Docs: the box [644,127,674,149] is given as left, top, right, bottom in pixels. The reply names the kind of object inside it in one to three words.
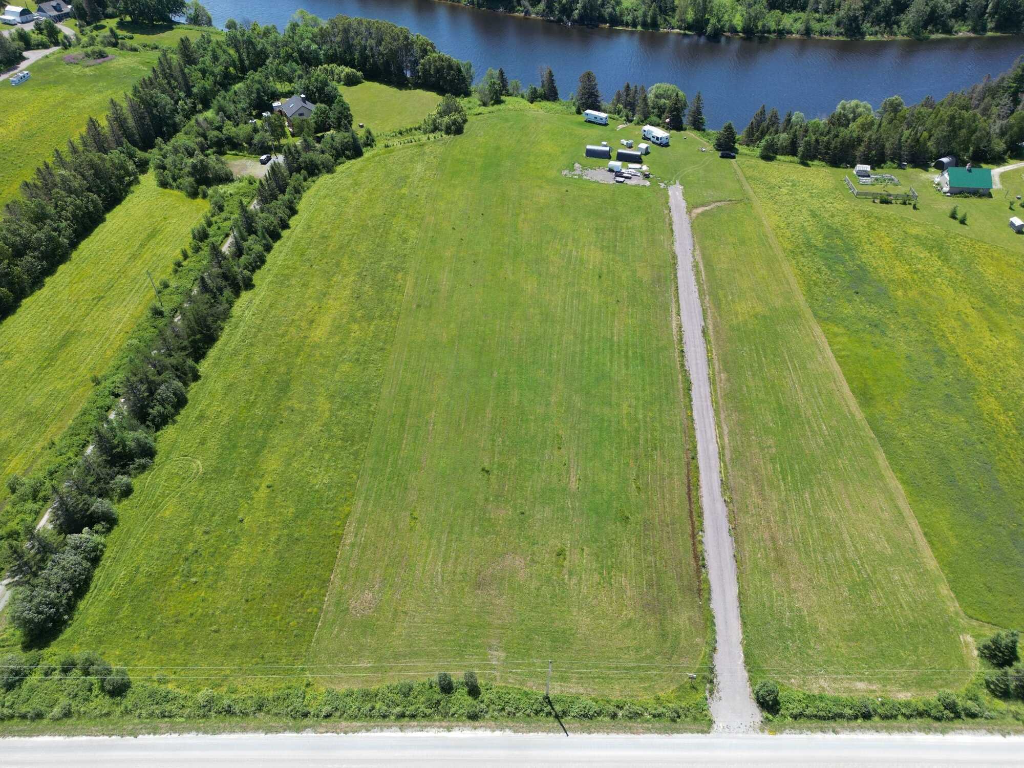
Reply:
vehicle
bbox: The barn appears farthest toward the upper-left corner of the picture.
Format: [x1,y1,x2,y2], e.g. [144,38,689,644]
[3,2,36,24]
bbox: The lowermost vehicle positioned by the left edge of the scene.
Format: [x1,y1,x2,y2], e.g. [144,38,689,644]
[3,68,30,84]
